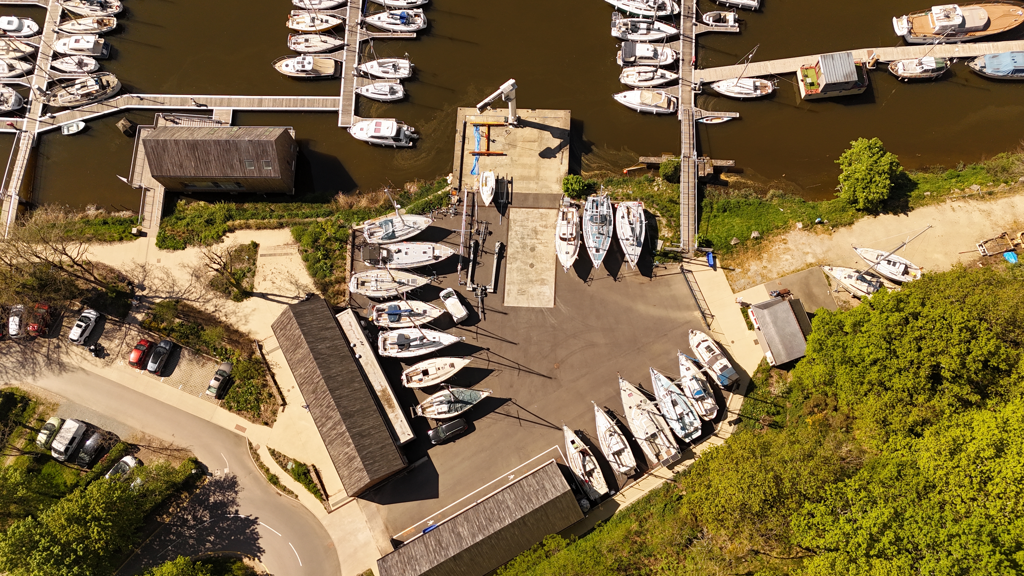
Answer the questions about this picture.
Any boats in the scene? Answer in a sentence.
Yes, a boat can be made out from above.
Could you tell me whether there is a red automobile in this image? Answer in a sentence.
Yes, I can see a red automobile in this picture.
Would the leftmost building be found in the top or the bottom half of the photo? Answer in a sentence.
The top half of the photo is where the leftmost building is.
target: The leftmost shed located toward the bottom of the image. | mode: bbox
[271,299,418,497]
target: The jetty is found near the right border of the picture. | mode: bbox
[694,42,1024,84]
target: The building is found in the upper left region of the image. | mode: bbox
[141,126,293,188]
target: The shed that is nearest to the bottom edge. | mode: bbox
[376,459,585,576]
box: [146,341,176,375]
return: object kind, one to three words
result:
car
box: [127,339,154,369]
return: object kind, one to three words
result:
car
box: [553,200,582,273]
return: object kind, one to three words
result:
boat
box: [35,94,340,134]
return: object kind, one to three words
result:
pier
